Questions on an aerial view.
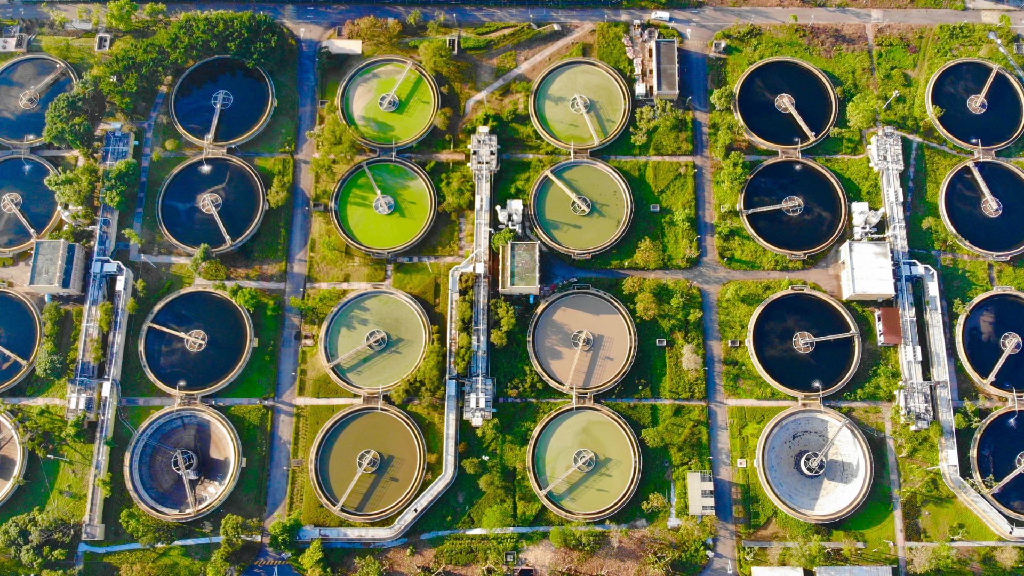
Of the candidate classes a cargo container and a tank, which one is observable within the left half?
tank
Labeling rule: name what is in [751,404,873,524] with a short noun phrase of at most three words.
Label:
storage tank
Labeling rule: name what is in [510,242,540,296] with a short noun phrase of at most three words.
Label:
building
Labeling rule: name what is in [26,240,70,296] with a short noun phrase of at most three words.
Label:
building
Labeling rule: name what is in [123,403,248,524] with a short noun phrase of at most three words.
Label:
storage tank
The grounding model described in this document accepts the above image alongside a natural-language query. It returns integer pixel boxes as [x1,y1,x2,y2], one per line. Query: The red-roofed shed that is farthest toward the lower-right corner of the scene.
[872,308,903,347]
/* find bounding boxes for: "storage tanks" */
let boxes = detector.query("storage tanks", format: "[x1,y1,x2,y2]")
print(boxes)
[0,279,47,392]
[139,283,259,401]
[735,155,848,265]
[123,403,248,524]
[336,55,440,150]
[528,58,632,153]
[952,286,1024,401]
[170,56,280,152]
[0,403,29,502]
[922,58,1024,153]
[329,154,438,265]
[526,402,643,521]
[526,282,639,397]
[751,404,873,524]
[936,156,1024,266]
[742,284,861,400]
[732,57,838,155]
[157,152,268,261]
[319,282,432,397]
[0,151,66,261]
[527,157,635,265]
[967,404,1024,523]
[309,402,427,523]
